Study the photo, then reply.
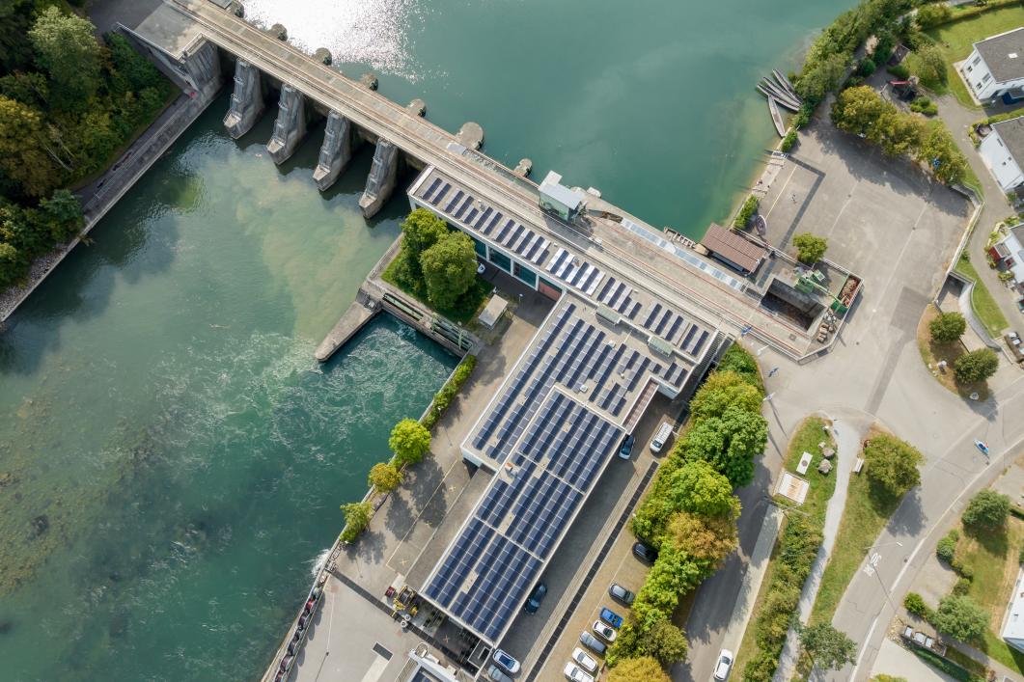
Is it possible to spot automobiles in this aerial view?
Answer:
Yes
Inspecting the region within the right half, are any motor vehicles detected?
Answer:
Yes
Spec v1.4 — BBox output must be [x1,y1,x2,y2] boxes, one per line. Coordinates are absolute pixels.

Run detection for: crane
[790,271,842,309]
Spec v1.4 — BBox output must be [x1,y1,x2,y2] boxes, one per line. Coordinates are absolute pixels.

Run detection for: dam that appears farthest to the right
[164,0,850,364]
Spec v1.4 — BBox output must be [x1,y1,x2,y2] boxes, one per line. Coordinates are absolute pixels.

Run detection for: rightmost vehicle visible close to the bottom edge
[712,646,734,682]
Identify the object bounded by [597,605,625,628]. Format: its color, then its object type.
blue car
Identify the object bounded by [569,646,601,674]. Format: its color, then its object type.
white car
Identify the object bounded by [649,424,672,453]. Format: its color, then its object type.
white vehicle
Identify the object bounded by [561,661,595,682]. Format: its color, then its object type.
white car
